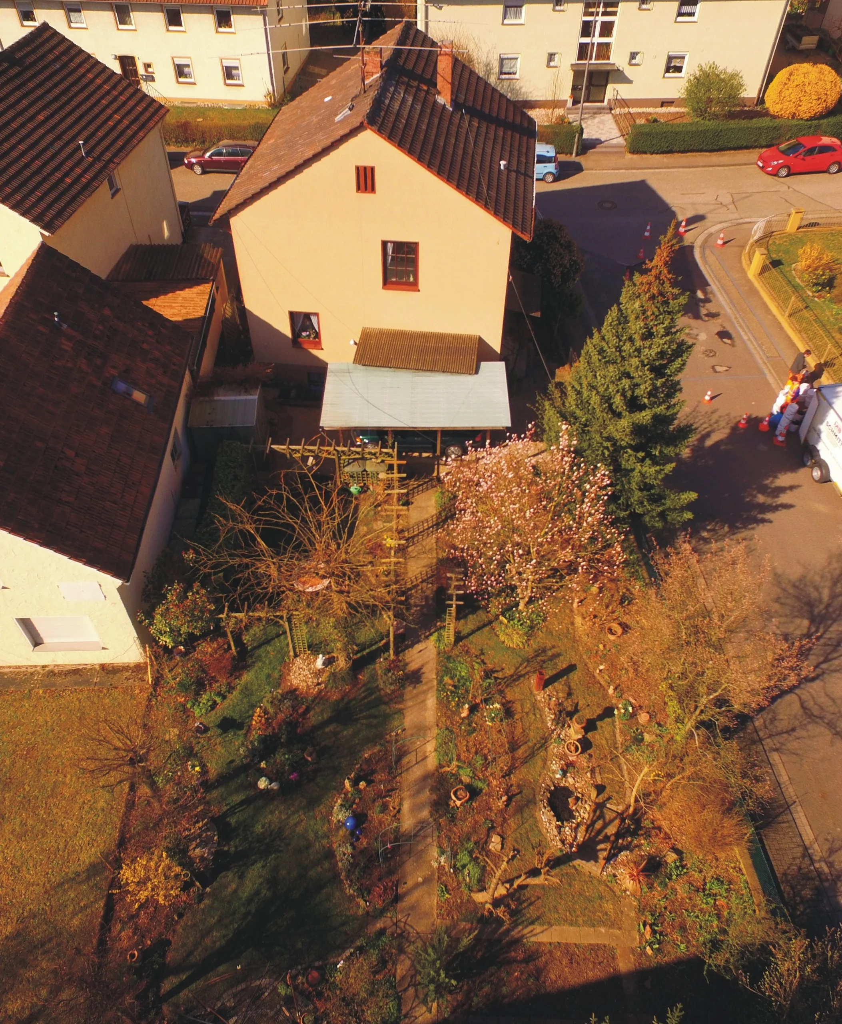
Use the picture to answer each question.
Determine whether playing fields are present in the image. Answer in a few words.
No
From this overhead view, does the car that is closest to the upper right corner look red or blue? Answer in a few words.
red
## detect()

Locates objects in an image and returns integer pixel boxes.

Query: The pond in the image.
[536,759,593,857]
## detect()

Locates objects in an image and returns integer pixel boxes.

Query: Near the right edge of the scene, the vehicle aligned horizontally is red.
[755,131,842,176]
